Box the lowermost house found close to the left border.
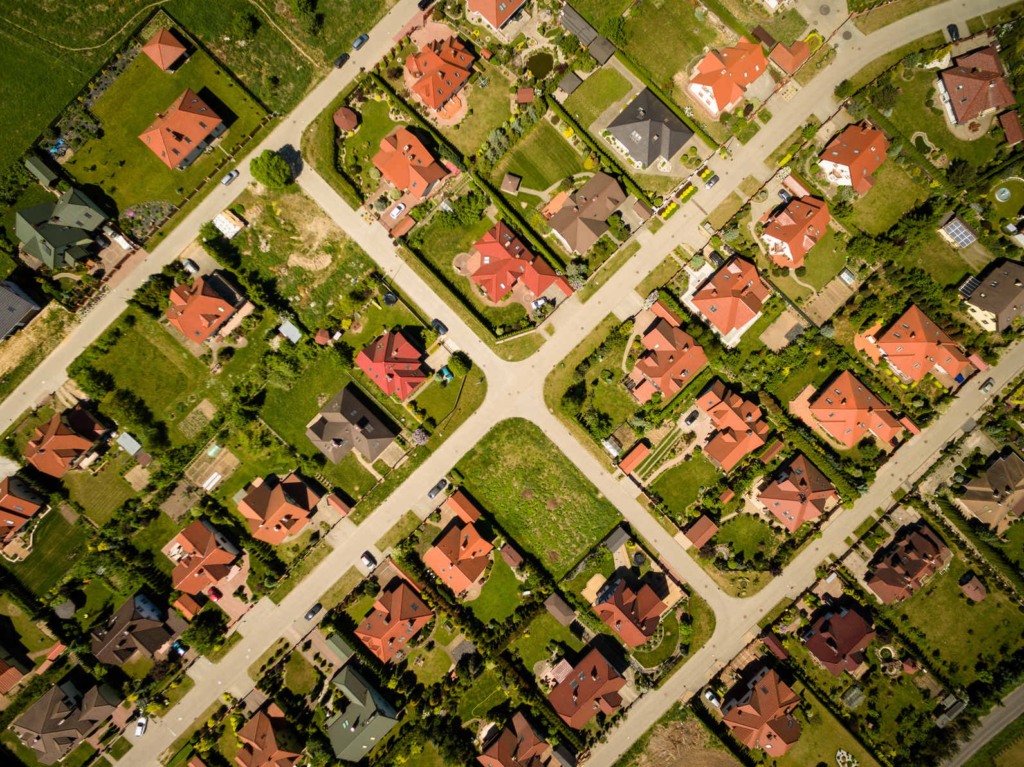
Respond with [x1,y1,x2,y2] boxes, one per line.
[13,679,123,766]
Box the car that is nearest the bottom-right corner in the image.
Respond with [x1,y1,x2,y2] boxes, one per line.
[818,587,836,610]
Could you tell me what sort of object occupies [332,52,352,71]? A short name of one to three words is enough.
car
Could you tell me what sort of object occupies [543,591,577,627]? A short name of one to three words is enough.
building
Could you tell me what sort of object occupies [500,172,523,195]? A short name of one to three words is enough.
gazebo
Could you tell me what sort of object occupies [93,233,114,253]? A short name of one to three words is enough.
car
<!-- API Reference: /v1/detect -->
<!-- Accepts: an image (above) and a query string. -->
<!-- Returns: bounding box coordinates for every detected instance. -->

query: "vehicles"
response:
[528,296,548,310]
[360,551,378,570]
[948,373,968,386]
[219,168,242,187]
[818,587,836,610]
[332,52,352,71]
[681,407,702,429]
[439,363,455,383]
[773,185,794,207]
[415,0,437,14]
[101,224,118,241]
[973,378,996,399]
[389,202,407,221]
[134,713,151,740]
[172,638,190,658]
[702,687,723,709]
[945,22,960,43]
[350,32,371,53]
[706,247,727,270]
[426,477,449,501]
[93,233,114,253]
[429,316,451,337]
[301,600,326,624]
[888,436,902,451]
[701,172,723,193]
[181,256,202,277]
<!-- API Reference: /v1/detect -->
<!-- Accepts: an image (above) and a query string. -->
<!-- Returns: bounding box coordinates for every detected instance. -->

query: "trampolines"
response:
[633,553,648,566]
[382,292,397,306]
